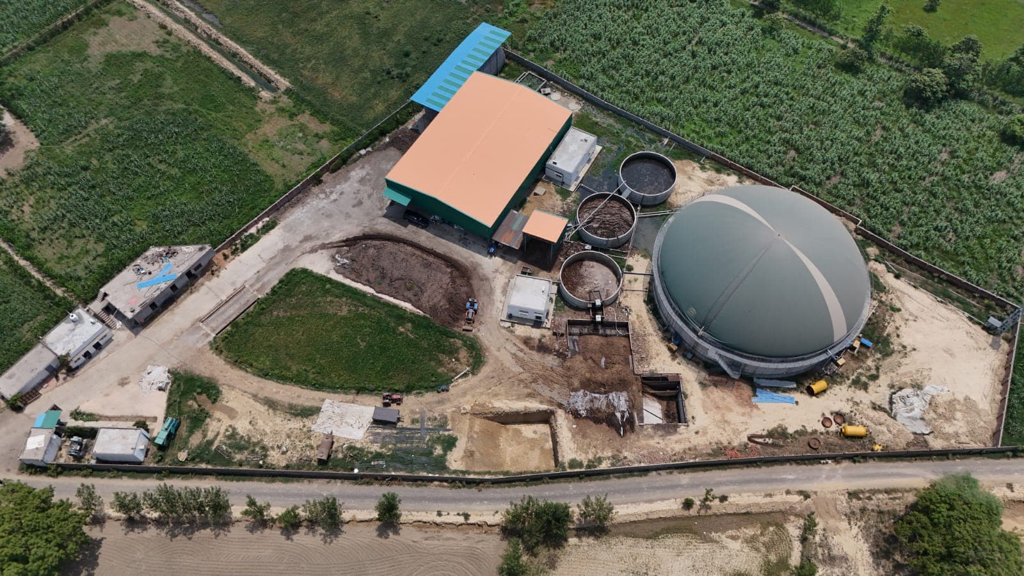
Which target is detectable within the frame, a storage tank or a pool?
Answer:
storage tank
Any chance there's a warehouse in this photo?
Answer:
Yes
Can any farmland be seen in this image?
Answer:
Yes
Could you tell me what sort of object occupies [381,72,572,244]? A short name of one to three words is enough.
warehouse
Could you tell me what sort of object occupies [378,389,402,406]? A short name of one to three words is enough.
work vehicle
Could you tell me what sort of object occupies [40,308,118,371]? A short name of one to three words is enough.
house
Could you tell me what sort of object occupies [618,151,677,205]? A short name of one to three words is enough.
storage tank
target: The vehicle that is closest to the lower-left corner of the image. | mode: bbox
[62,431,83,464]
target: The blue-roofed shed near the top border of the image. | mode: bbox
[410,23,511,124]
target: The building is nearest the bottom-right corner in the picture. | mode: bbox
[510,276,556,326]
